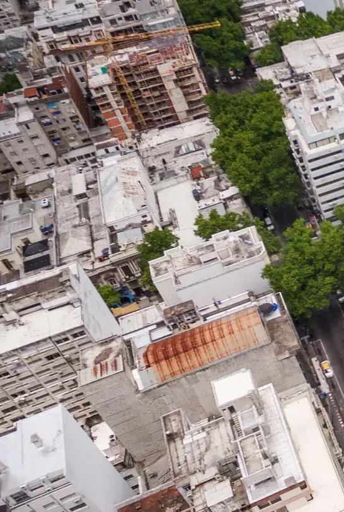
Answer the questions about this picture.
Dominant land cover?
buildings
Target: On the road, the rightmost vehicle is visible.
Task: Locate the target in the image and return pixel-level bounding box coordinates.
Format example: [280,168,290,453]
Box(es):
[318,359,335,378]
